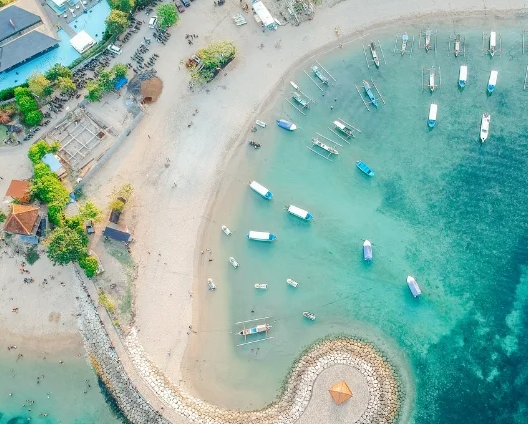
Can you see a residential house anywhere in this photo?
Yes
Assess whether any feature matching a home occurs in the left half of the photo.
Yes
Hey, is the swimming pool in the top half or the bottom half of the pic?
top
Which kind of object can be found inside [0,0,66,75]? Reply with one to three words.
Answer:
building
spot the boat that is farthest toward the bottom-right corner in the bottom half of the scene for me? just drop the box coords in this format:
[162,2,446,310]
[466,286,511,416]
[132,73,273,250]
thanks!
[408,276,423,301]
